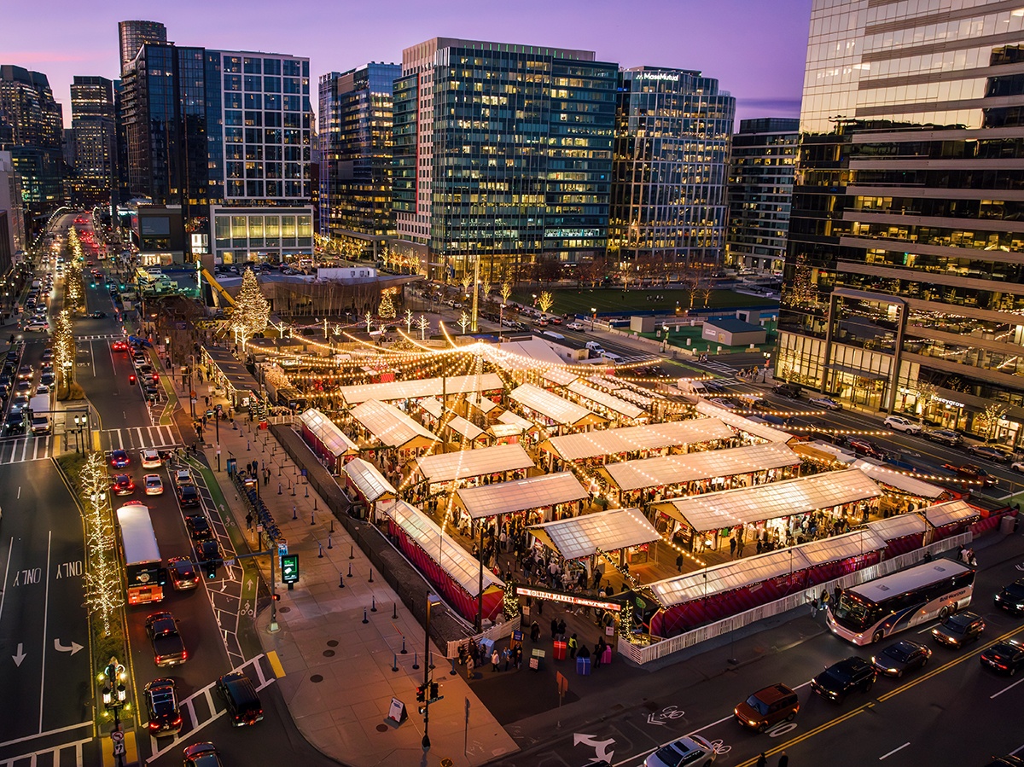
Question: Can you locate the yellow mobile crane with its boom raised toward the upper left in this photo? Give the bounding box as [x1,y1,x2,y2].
[188,269,229,314]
